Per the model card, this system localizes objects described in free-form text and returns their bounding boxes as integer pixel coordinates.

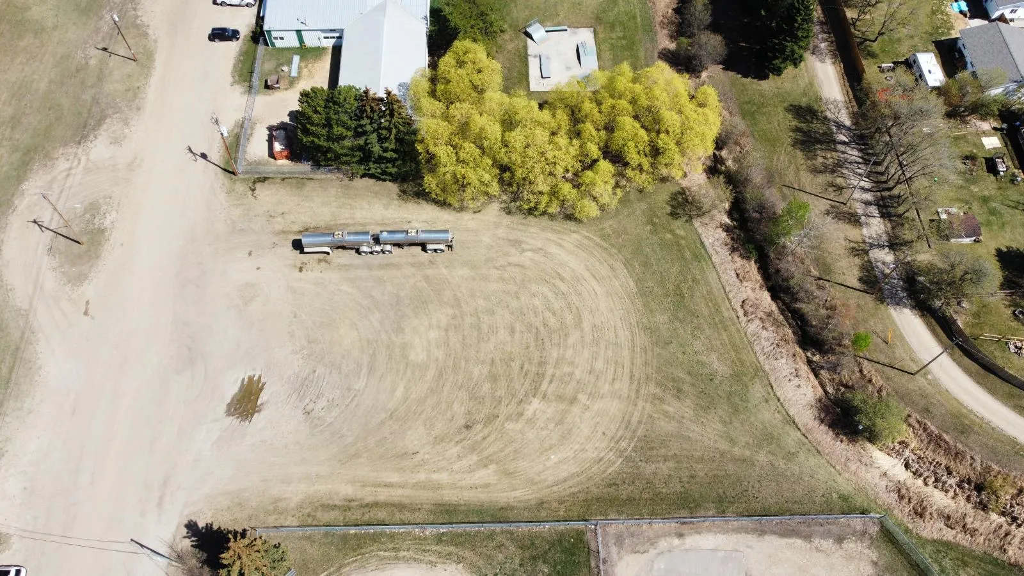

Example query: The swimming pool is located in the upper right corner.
[951,1,971,14]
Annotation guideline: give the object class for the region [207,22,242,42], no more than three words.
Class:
car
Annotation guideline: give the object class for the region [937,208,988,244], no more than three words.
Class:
shed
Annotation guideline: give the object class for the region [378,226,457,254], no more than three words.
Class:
trailer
